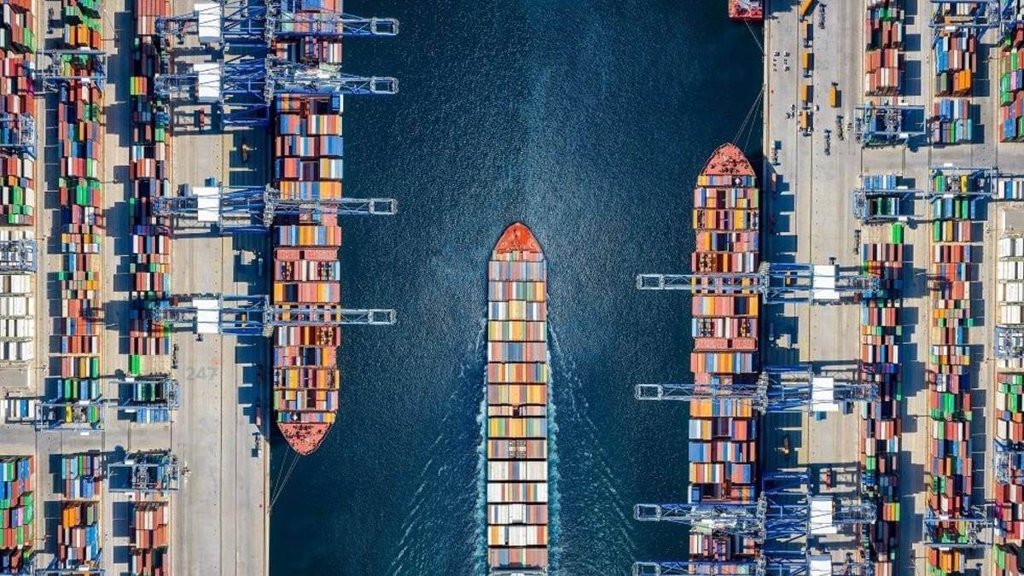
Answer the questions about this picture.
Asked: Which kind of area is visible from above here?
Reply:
port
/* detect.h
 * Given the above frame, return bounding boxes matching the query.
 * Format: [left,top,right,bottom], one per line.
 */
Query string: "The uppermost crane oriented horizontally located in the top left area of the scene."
[153,5,395,64]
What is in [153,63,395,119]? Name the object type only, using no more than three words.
container crane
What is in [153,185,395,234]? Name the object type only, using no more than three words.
container crane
